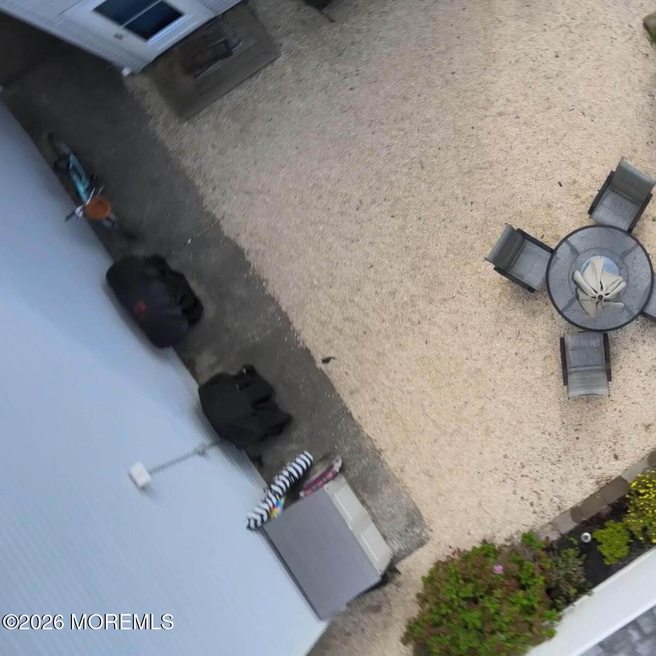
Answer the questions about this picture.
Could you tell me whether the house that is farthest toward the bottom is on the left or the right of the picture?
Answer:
left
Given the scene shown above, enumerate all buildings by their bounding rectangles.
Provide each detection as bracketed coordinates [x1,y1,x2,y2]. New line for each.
[0,102,326,656]
[0,0,240,76]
